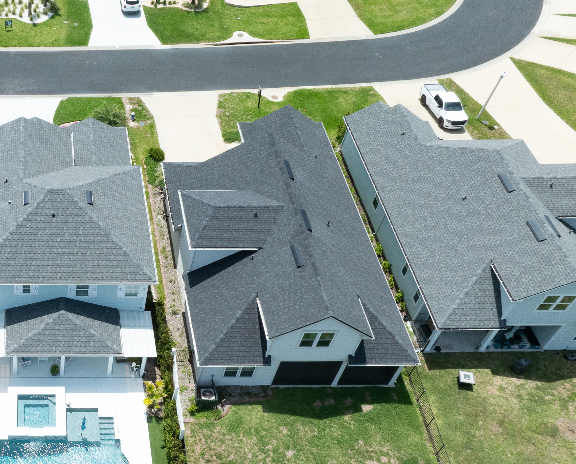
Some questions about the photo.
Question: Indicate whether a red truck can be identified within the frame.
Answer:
No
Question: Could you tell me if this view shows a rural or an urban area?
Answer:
urban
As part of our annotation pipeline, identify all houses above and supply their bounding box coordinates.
[162,102,422,388]
[342,101,576,352]
[0,118,159,377]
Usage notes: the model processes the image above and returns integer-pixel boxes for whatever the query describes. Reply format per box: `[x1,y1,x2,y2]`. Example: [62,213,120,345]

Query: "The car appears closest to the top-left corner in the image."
[120,0,141,13]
